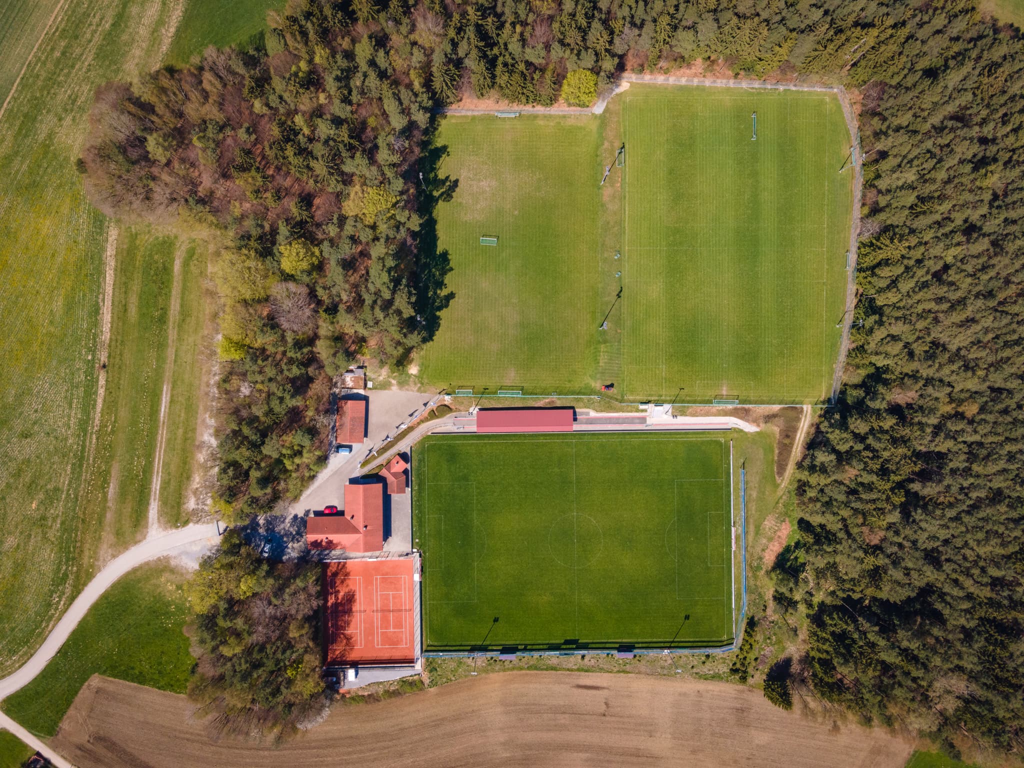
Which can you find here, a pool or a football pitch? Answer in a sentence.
Looking from above, you can make out a football pitch.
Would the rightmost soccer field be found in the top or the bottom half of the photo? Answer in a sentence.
Seen from above, the rightmost soccer field lies in the top half of the view.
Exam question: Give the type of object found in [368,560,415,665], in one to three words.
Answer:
tennis court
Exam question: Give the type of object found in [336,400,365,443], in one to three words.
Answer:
building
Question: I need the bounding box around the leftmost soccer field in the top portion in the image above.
[413,114,603,395]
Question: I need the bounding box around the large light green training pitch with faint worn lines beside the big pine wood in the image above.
[621,83,854,404]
